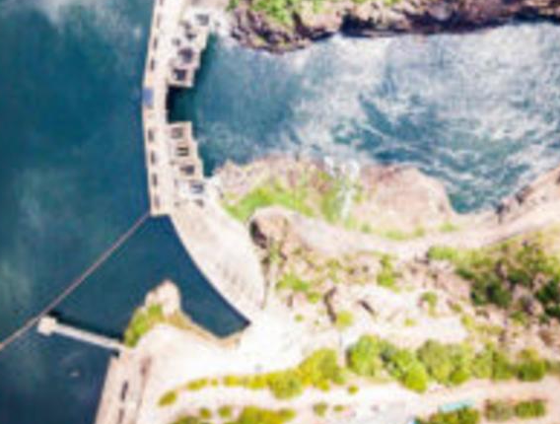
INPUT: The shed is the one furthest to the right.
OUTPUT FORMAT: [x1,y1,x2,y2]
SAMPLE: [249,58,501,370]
[442,399,478,415]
